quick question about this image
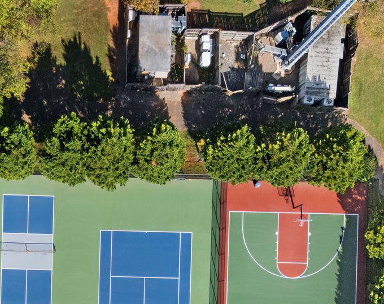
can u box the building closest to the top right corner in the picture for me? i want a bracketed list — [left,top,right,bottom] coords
[298,16,346,99]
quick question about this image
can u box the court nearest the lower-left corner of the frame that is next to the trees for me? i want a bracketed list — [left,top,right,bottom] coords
[0,194,54,304]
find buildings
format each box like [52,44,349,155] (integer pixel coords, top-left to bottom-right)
[298,16,346,99]
[137,16,172,76]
